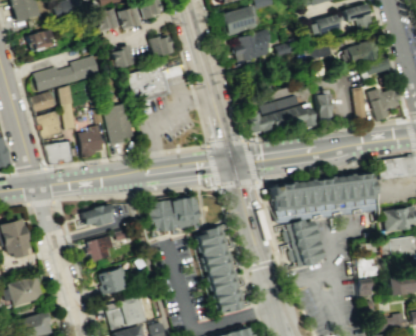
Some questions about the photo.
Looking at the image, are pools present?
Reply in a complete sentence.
No, the frame has no pool in it.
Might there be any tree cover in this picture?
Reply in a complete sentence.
Yes, there's tree cover in this view.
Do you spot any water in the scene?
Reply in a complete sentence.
No, there's no water in this view.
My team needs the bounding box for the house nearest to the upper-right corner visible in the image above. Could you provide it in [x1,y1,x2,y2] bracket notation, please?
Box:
[344,2,372,30]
